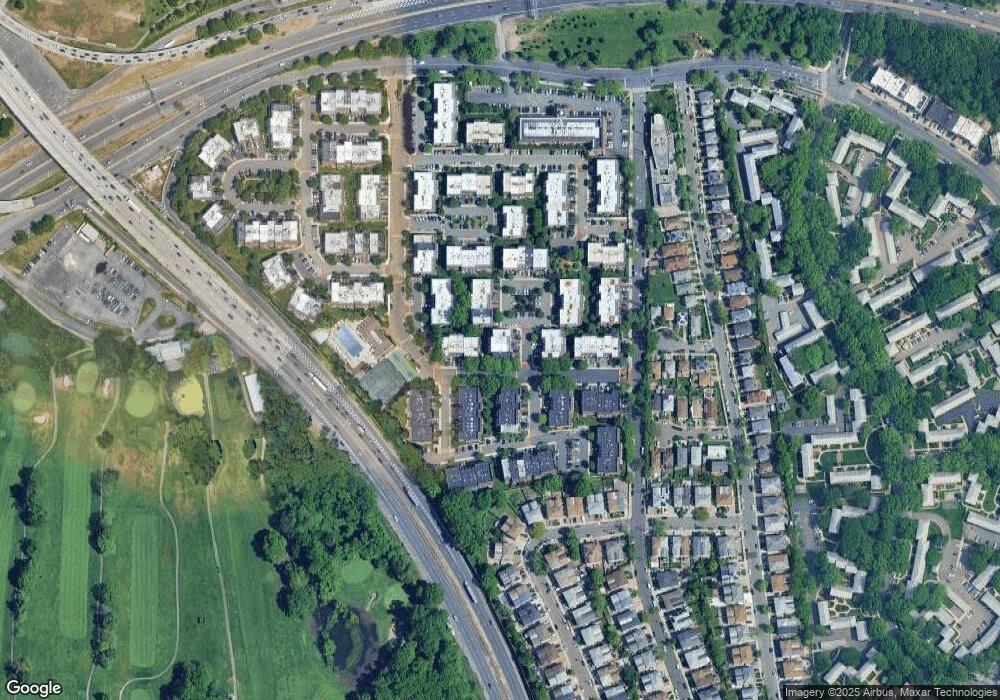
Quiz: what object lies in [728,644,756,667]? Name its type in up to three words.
house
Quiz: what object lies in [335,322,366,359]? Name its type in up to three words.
swimming pool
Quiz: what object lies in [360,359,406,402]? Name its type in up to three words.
sports court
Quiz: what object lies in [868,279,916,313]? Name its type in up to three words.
building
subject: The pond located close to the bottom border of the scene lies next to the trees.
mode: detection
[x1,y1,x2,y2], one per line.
[317,605,368,671]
